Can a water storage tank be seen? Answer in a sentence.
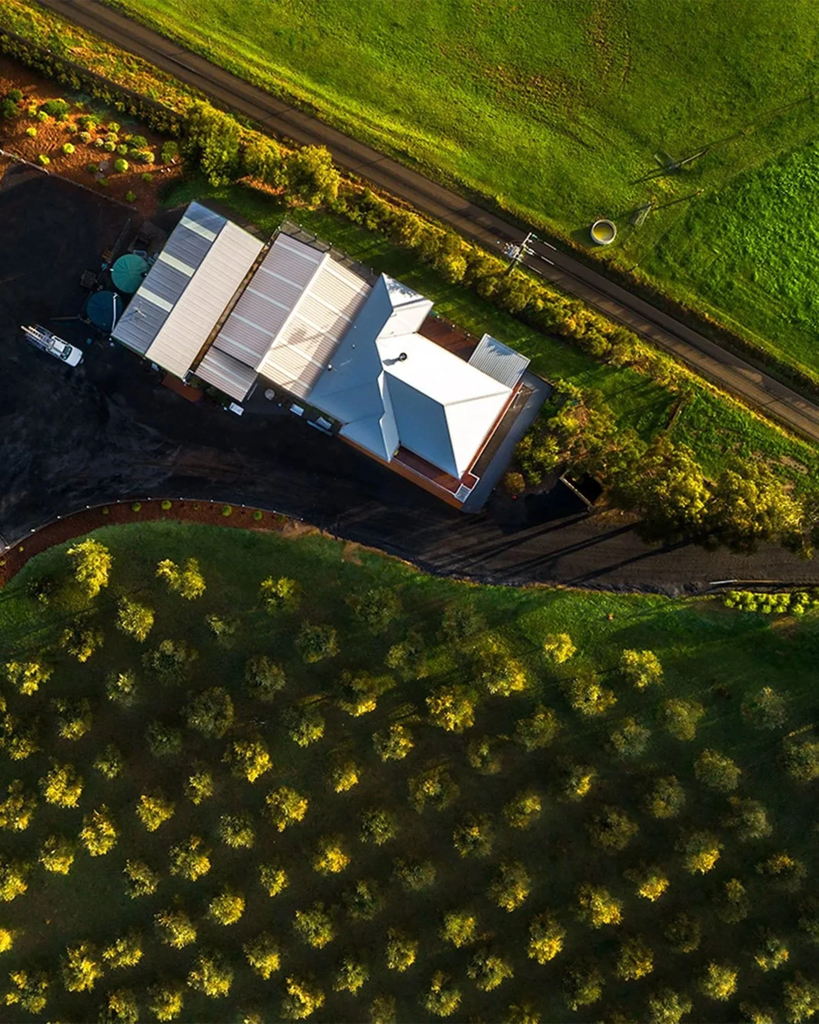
Yes, there's a water storage tank here.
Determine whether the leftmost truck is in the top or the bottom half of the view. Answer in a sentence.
The leftmost truck is in the top half of the image.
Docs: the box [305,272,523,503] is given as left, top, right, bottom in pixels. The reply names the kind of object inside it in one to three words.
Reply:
house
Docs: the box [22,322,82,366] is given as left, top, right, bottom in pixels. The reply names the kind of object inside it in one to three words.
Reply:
truck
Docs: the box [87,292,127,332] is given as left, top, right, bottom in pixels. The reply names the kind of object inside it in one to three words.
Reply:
water tank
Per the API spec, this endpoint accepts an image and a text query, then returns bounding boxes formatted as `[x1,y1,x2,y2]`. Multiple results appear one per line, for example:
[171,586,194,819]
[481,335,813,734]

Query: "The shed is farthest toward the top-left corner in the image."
[113,200,268,381]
